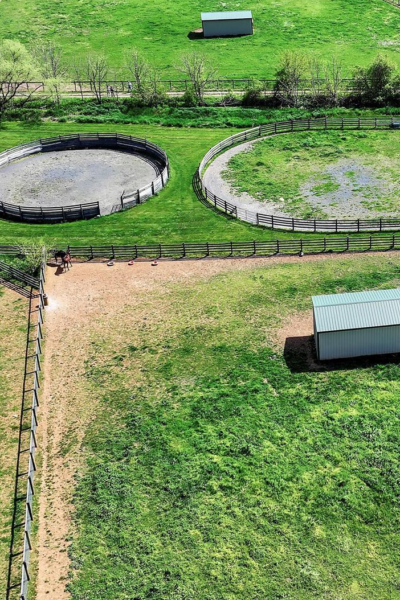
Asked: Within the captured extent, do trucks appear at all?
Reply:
No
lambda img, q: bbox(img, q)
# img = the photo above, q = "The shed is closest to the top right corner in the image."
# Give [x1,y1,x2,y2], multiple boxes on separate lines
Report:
[201,11,253,36]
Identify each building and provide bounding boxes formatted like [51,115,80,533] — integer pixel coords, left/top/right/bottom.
[201,11,253,36]
[311,294,400,361]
